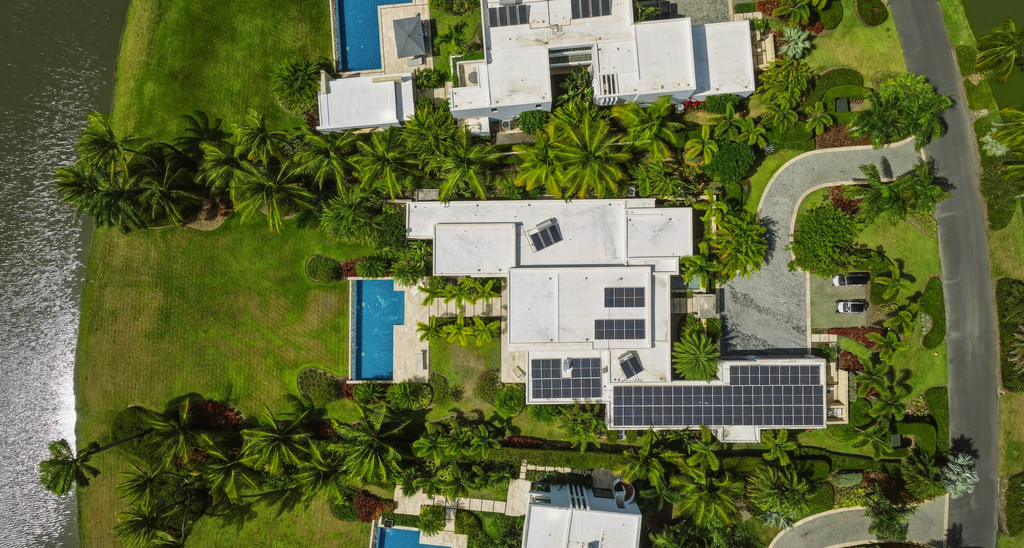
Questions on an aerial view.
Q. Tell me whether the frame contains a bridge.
No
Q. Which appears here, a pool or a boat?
pool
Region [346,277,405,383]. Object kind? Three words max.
swimming pool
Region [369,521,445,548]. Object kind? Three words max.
swimming pool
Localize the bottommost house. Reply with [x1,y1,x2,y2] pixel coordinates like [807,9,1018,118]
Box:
[517,472,642,548]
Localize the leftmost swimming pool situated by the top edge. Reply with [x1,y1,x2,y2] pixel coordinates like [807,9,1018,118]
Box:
[330,0,413,75]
